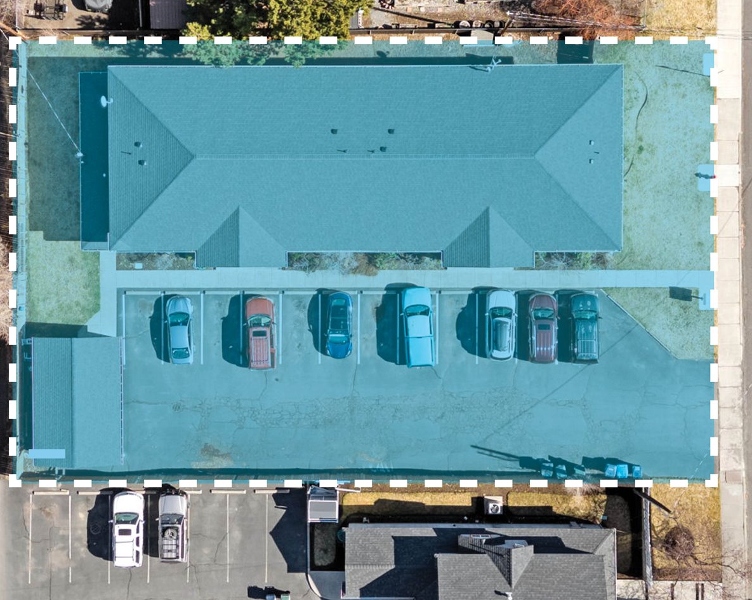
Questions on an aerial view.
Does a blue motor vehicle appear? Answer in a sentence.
Yes, this view includes a blue motor vehicle.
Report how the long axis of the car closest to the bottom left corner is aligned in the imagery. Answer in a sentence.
Seen from above, the car closest to the bottom left corner lies from top to bottom.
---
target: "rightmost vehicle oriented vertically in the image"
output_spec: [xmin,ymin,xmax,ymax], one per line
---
[569,292,602,362]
